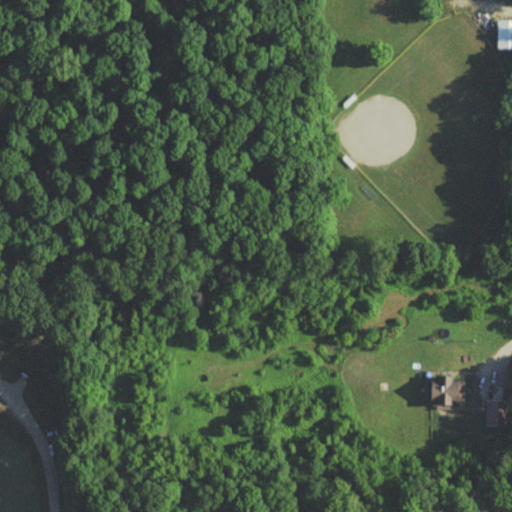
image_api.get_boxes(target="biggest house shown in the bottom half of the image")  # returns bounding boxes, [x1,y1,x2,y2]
[432,376,466,408]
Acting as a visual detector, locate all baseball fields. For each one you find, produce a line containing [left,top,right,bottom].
[338,17,506,249]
